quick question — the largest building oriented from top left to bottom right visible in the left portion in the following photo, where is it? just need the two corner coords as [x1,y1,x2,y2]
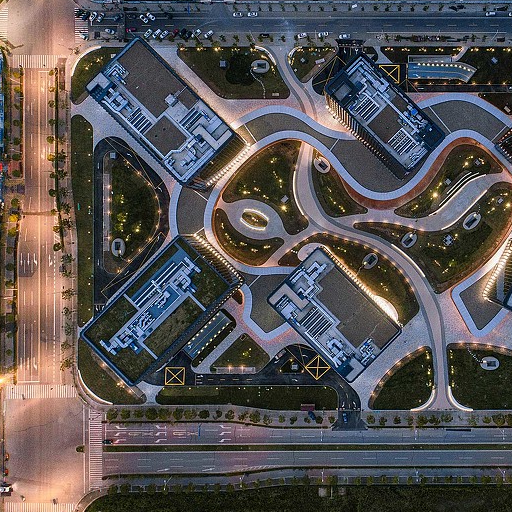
[85,37,248,183]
